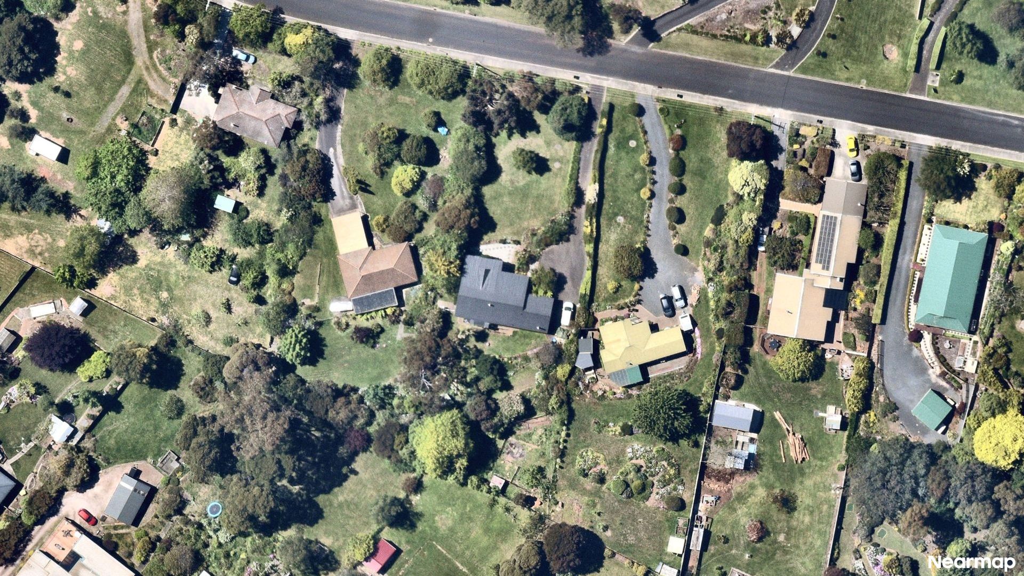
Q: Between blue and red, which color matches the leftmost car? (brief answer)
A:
red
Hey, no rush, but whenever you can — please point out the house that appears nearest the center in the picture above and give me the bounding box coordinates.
[456,254,554,333]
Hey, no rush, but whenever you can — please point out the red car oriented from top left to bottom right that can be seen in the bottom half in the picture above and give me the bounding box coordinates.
[76,508,99,528]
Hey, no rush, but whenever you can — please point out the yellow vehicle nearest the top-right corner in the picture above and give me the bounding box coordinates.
[846,135,858,157]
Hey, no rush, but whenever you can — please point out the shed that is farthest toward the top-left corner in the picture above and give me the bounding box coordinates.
[30,133,61,162]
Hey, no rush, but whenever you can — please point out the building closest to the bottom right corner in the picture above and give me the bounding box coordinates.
[913,387,952,430]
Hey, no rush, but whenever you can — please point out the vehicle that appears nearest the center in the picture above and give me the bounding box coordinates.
[562,301,574,326]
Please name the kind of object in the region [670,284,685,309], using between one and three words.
car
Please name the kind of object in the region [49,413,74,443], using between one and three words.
shed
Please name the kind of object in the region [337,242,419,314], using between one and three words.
house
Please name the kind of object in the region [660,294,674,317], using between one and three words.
car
